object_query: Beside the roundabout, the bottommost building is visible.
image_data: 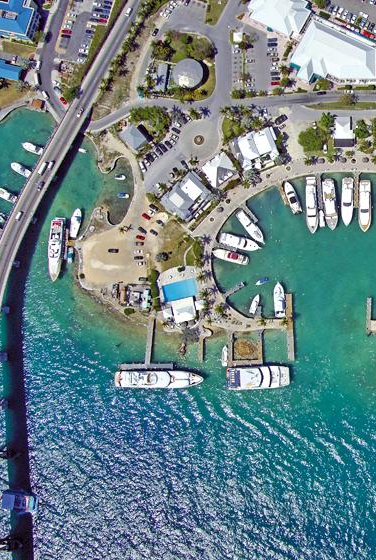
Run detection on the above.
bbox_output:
[164,173,217,222]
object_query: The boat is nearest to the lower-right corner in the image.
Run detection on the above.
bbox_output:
[227,366,290,389]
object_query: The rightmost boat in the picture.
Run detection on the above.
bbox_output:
[359,180,372,231]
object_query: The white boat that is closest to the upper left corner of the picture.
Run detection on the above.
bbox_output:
[22,143,44,157]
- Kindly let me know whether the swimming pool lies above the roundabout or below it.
below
